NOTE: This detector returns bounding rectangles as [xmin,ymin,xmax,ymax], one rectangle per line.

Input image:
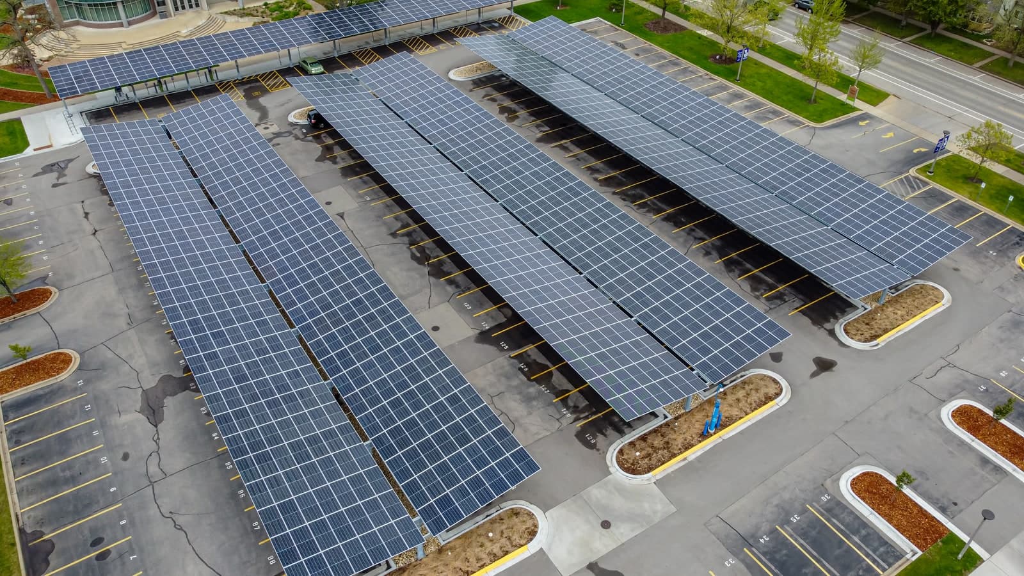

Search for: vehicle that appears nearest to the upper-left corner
[297,56,323,75]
